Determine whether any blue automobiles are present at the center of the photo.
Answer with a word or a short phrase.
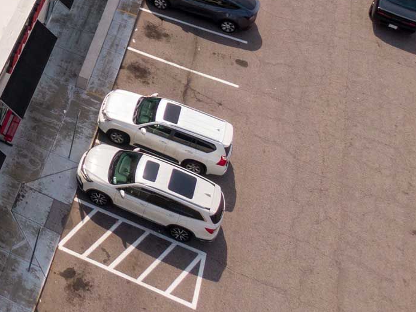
No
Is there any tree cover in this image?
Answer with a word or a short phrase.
No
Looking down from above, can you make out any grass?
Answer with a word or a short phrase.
No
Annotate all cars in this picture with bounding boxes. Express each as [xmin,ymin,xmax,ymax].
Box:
[147,0,261,36]
[75,152,227,249]
[369,0,416,35]
[97,94,235,174]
